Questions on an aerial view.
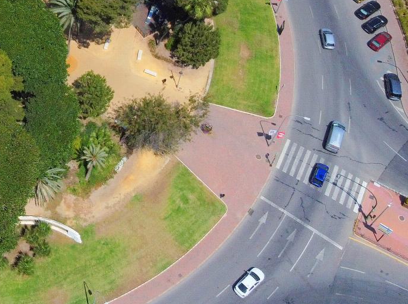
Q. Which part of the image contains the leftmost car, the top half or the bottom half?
bottom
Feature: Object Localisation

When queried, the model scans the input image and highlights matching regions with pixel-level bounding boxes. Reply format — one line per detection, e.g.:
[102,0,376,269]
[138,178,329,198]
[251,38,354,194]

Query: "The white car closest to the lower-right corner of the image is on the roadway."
[232,265,264,301]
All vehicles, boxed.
[381,73,403,102]
[232,265,264,301]
[308,159,330,193]
[318,26,336,53]
[324,121,347,156]
[365,31,396,52]
[359,14,389,35]
[354,0,382,20]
